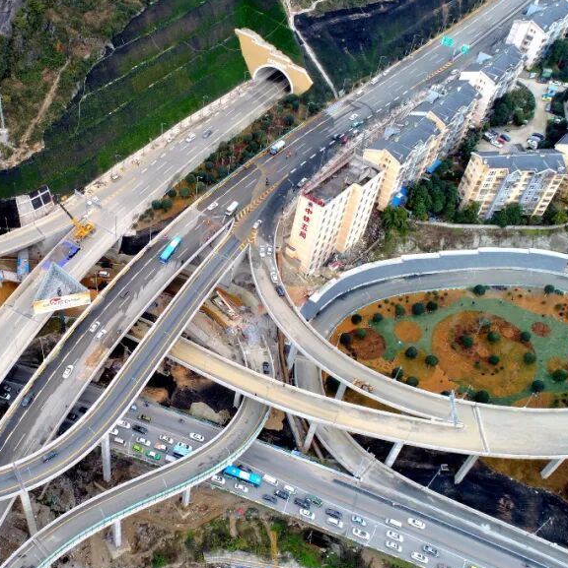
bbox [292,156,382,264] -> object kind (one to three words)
building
